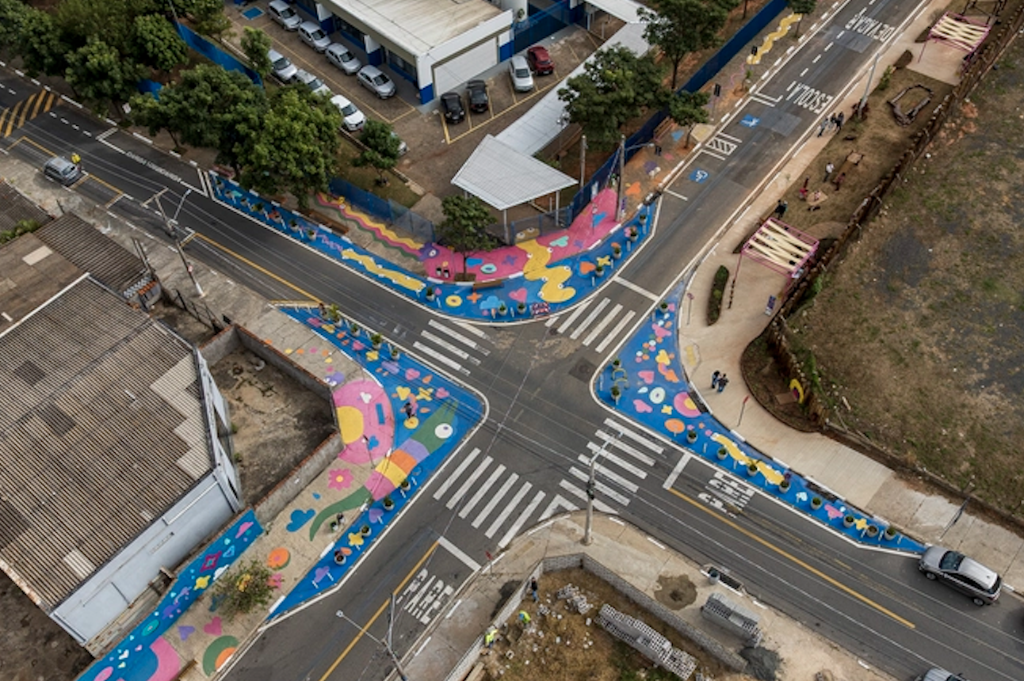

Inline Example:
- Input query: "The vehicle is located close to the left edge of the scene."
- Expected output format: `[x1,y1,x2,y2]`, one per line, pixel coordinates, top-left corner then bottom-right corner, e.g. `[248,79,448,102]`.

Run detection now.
[37,151,86,185]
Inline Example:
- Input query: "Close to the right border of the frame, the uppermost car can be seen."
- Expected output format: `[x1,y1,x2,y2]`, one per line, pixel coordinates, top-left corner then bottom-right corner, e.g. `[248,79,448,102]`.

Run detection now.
[912,546,1011,615]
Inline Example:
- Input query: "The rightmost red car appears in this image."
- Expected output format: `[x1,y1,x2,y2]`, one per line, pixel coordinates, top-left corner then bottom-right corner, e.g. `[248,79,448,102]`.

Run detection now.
[525,42,556,72]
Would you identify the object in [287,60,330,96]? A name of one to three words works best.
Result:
car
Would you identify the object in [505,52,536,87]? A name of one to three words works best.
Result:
car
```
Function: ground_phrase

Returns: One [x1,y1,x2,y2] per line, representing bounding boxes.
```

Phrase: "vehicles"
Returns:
[287,60,330,96]
[392,130,418,161]
[260,44,296,76]
[37,151,86,185]
[437,85,467,122]
[525,42,556,72]
[292,15,333,48]
[322,89,367,127]
[322,36,364,71]
[505,52,536,87]
[353,59,398,95]
[912,546,1011,615]
[463,77,493,109]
